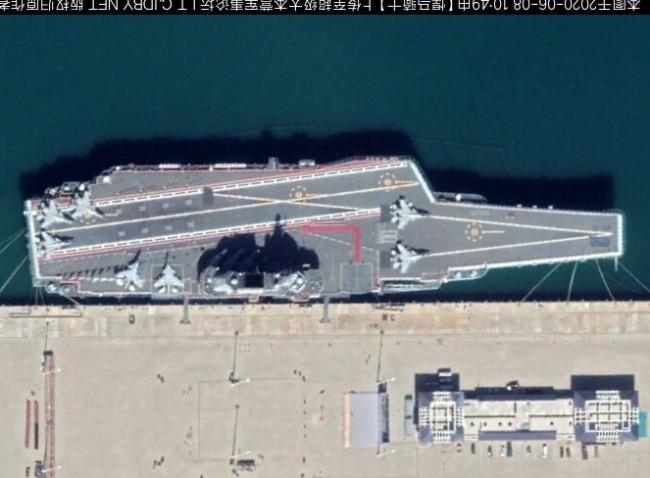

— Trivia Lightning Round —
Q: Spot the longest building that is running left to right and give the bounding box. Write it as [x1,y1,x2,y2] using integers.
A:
[412,373,646,443]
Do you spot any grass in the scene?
No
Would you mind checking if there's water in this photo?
Yes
